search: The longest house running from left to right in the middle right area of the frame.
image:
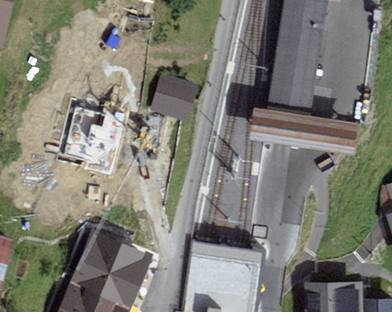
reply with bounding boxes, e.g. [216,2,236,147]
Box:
[250,108,359,155]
